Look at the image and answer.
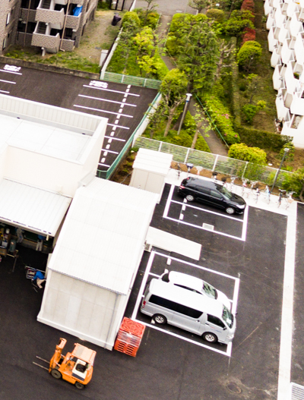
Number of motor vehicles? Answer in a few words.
4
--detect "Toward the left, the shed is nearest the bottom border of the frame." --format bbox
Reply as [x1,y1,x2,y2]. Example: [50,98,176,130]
[36,172,163,351]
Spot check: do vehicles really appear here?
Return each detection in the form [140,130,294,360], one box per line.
[142,282,235,345]
[26,338,100,392]
[177,176,251,215]
[160,271,245,325]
